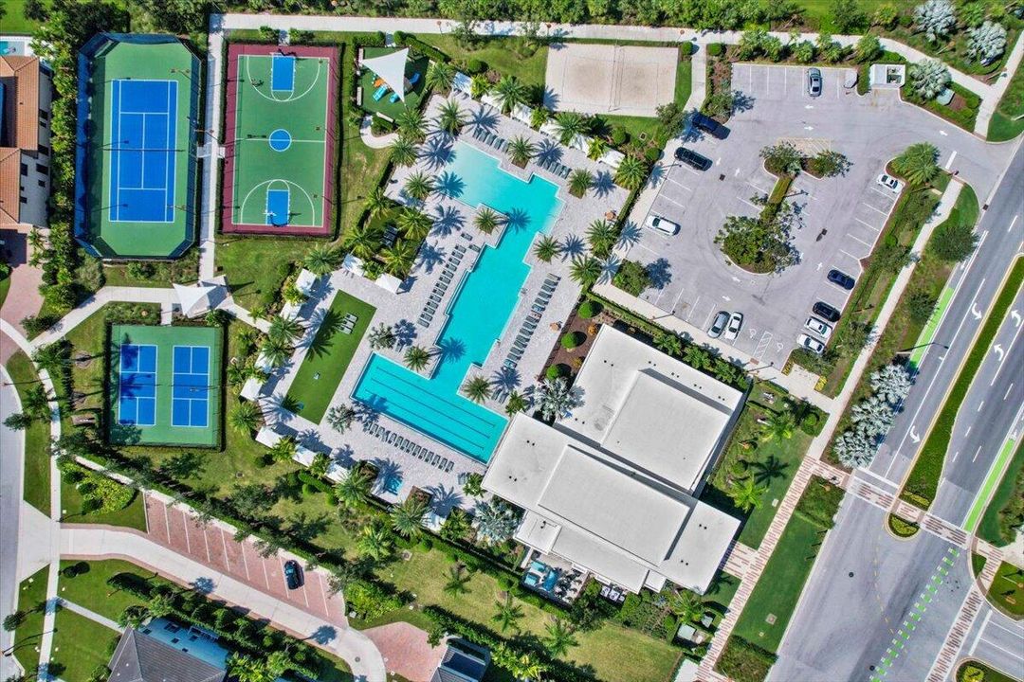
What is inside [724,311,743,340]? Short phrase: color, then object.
white car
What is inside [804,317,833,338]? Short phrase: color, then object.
white car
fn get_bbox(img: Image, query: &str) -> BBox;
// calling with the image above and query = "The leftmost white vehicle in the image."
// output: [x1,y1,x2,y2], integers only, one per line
[647,215,677,235]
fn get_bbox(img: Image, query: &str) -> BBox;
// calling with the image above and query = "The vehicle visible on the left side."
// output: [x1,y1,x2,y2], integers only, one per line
[286,560,302,589]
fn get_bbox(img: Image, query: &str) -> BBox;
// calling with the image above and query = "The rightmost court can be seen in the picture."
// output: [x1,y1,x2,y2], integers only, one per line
[545,42,679,117]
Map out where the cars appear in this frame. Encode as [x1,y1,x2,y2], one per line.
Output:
[647,215,677,235]
[812,300,841,322]
[678,147,710,170]
[796,332,826,354]
[286,560,302,589]
[724,311,743,340]
[804,317,833,338]
[825,270,856,290]
[808,68,823,97]
[708,310,729,338]
[875,173,904,192]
